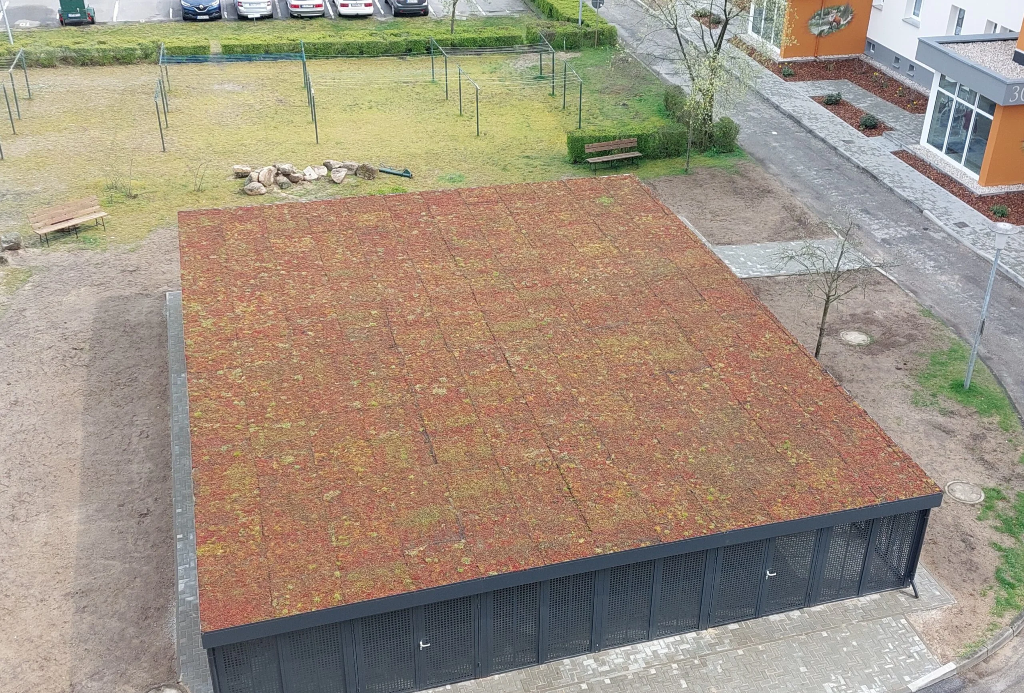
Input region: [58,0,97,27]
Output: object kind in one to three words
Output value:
trailer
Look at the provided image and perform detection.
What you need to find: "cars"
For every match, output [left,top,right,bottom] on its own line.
[384,0,430,16]
[285,0,326,17]
[234,0,276,18]
[331,0,376,15]
[181,0,223,19]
